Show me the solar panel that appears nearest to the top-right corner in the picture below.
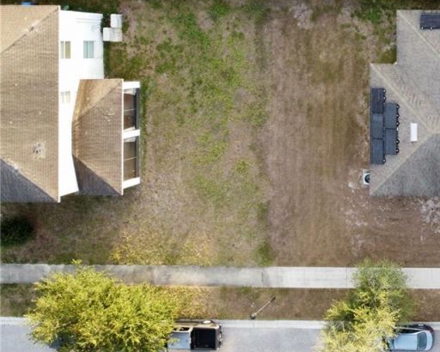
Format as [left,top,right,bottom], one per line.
[420,14,440,28]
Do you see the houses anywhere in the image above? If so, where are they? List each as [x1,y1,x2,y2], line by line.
[369,10,440,196]
[0,4,140,202]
